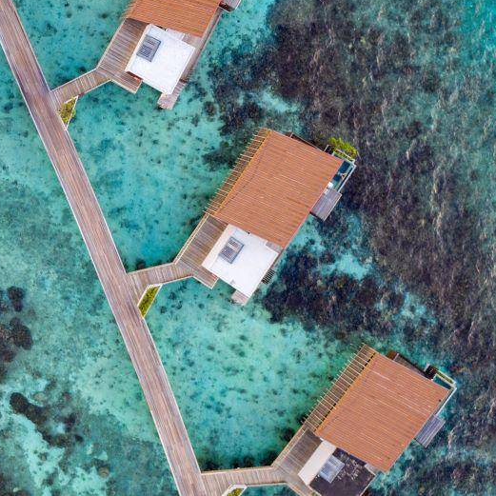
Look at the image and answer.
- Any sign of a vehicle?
No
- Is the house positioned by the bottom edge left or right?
right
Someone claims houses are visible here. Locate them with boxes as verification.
[172,127,354,304]
[265,342,457,496]
[96,0,241,112]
